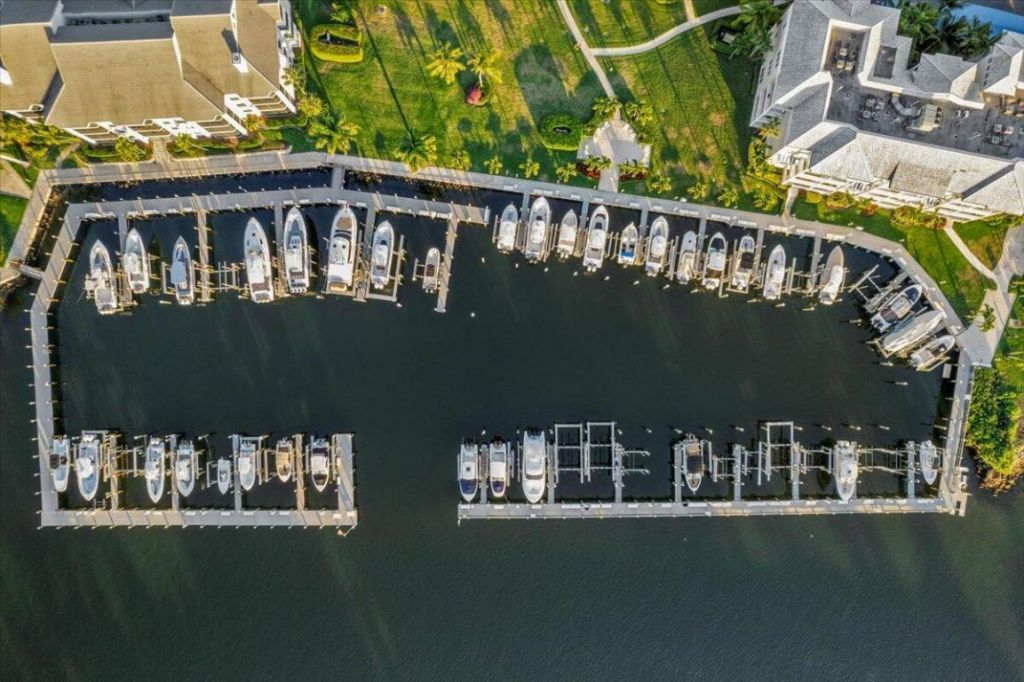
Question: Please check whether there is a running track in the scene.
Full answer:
No, no running track is visible in the view.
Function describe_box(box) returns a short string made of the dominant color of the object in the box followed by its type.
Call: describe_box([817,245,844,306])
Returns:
white boat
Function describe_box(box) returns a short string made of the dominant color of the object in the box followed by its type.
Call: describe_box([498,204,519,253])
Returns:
white boat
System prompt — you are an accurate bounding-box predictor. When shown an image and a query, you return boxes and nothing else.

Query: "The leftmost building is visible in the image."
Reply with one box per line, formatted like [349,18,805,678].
[0,0,303,141]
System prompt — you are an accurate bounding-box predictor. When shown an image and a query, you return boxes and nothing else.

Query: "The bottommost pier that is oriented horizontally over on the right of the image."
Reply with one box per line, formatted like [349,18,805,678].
[457,442,958,518]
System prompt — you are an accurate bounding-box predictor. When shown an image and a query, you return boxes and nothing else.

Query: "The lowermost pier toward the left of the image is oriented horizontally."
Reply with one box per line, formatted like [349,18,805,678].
[39,435,358,528]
